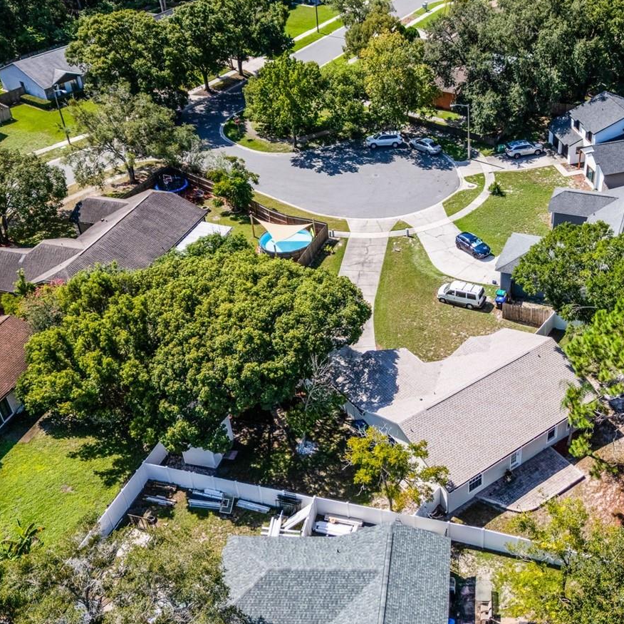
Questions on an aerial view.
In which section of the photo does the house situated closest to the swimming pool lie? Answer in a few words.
left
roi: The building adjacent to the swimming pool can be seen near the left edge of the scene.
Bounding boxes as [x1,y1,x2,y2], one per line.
[0,186,237,318]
